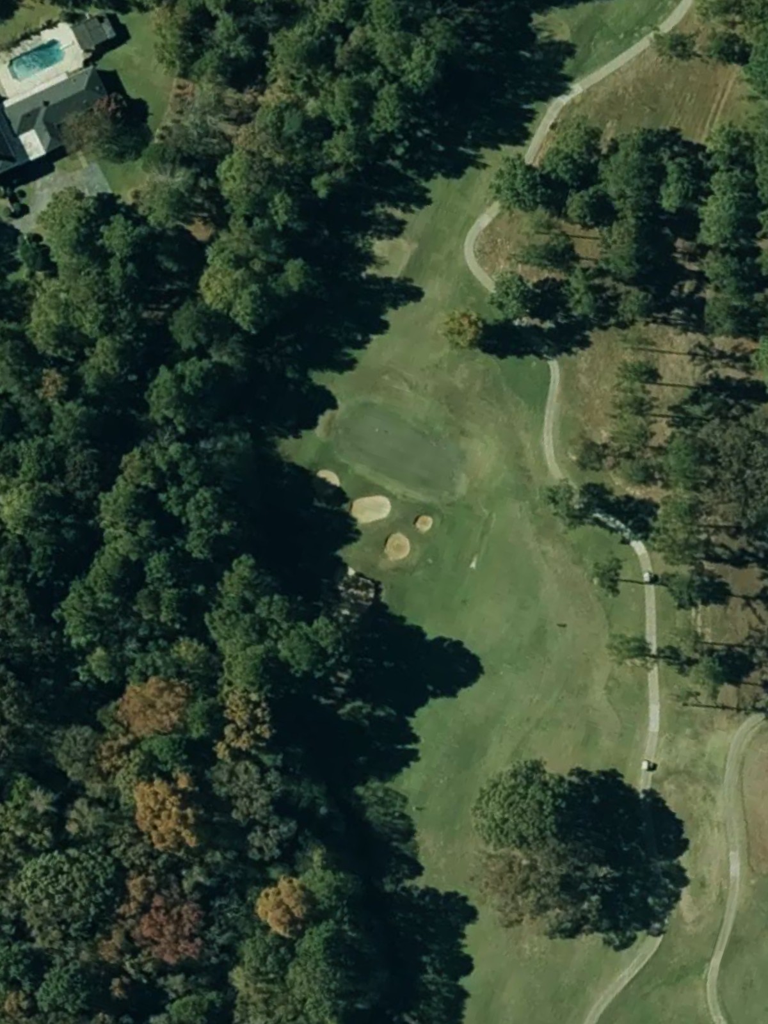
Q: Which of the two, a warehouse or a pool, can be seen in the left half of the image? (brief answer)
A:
pool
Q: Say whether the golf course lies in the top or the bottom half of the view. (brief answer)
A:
bottom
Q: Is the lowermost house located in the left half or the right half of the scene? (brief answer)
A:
left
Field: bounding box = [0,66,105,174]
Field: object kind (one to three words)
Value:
house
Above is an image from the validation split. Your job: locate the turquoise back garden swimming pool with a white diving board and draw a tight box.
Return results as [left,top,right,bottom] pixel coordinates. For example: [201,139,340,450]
[7,38,73,82]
